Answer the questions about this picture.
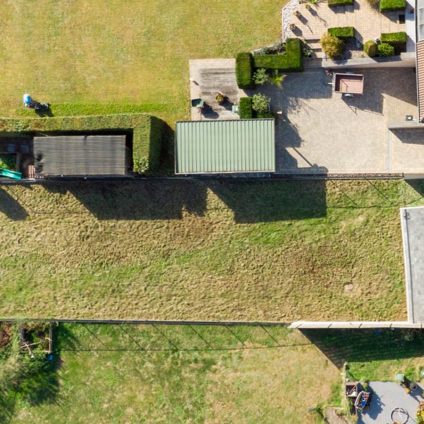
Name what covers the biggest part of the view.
grass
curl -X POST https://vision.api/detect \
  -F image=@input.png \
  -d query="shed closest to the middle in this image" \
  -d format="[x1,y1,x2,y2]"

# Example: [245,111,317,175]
[174,118,278,175]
